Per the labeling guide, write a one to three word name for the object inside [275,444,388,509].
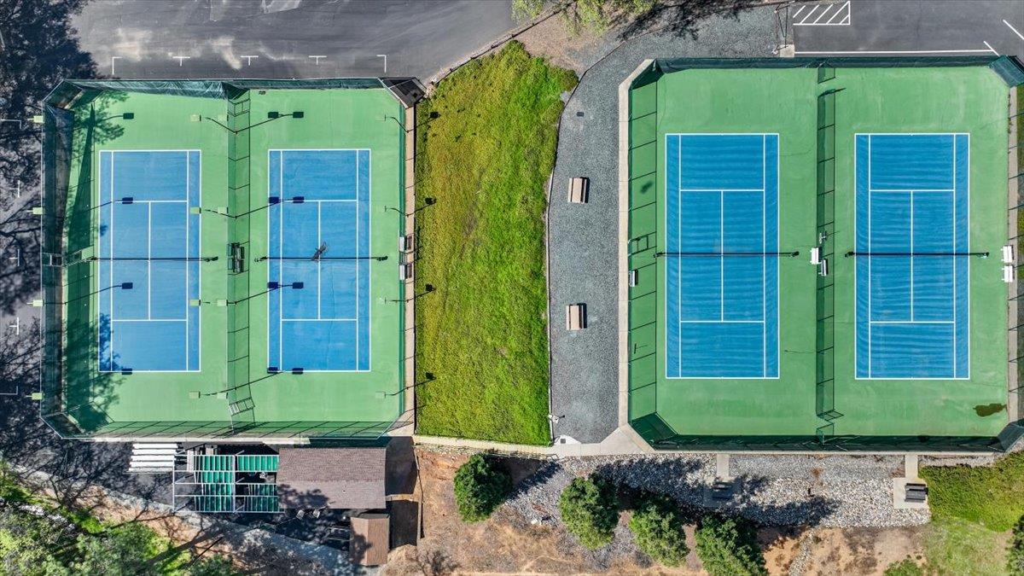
building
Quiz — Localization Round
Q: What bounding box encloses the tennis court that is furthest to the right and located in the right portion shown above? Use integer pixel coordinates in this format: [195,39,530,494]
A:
[817,70,1008,442]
